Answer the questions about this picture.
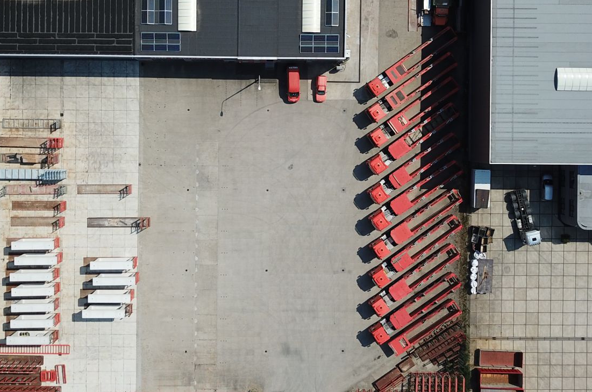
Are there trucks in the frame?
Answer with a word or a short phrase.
Yes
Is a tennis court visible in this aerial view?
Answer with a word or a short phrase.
No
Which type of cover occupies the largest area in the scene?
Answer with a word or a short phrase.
paved ground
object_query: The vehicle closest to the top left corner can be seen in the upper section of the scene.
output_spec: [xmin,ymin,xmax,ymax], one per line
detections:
[285,67,301,103]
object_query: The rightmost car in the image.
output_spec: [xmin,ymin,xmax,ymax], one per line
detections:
[540,173,554,200]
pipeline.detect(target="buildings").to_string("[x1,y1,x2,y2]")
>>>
[467,0,592,167]
[0,0,351,66]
